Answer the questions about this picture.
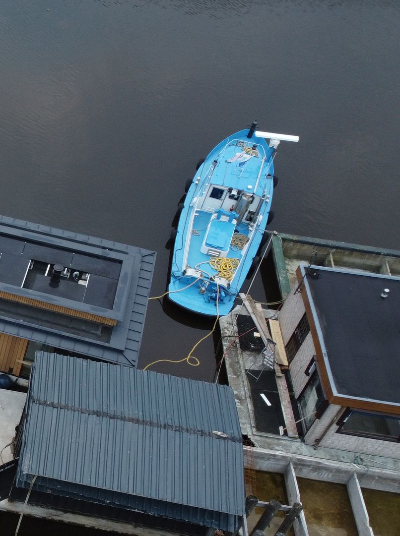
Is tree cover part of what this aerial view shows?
No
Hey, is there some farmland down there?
No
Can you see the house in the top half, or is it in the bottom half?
bottom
